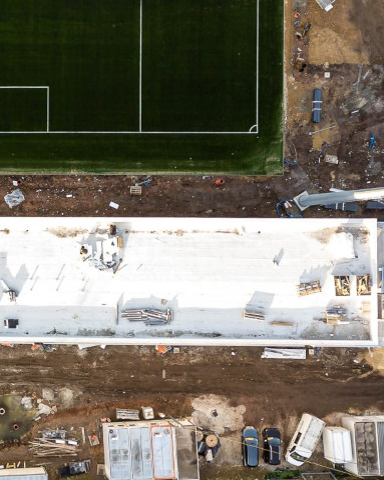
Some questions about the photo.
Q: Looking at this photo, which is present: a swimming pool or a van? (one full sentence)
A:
Of the two, only a van appears.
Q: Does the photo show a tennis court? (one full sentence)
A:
No, this view has no tennis court in it.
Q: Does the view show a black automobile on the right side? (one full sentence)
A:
Yes, I can see a black automobile on the right side.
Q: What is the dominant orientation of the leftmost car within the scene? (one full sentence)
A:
From this overhead view, the leftmost car appears to run up and down.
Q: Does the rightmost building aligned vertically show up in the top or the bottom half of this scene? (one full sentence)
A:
The rightmost building aligned vertically is in the bottom half of the image.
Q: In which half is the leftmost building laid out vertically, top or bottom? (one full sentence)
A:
It is in the bottom half that the leftmost building laid out vertically appears.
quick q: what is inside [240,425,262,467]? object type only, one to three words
car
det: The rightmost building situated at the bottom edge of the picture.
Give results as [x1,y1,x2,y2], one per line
[168,420,199,480]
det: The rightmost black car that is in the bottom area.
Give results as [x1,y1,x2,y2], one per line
[263,427,284,464]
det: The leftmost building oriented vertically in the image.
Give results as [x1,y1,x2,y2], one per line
[105,421,133,480]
